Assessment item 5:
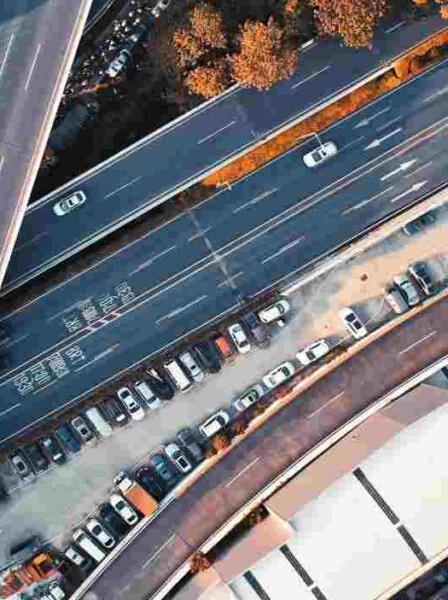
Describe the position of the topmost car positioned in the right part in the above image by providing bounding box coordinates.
[302,140,338,167]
